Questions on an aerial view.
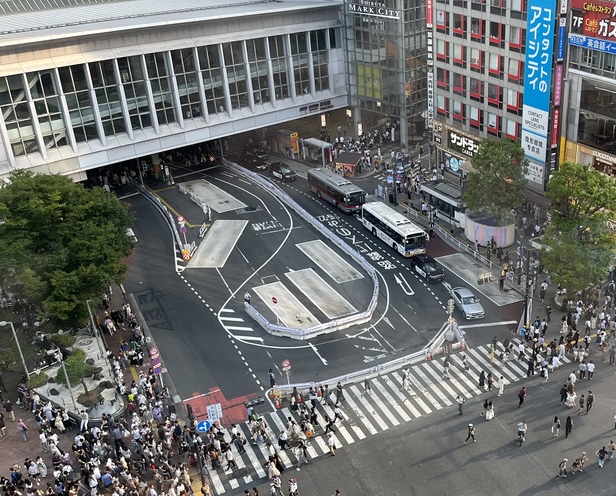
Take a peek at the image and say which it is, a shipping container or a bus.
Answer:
bus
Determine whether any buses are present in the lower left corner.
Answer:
No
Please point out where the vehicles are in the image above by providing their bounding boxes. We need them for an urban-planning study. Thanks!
[446,285,487,318]
[271,162,298,181]
[309,168,374,218]
[362,195,432,254]
[407,249,443,280]
[243,151,270,169]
